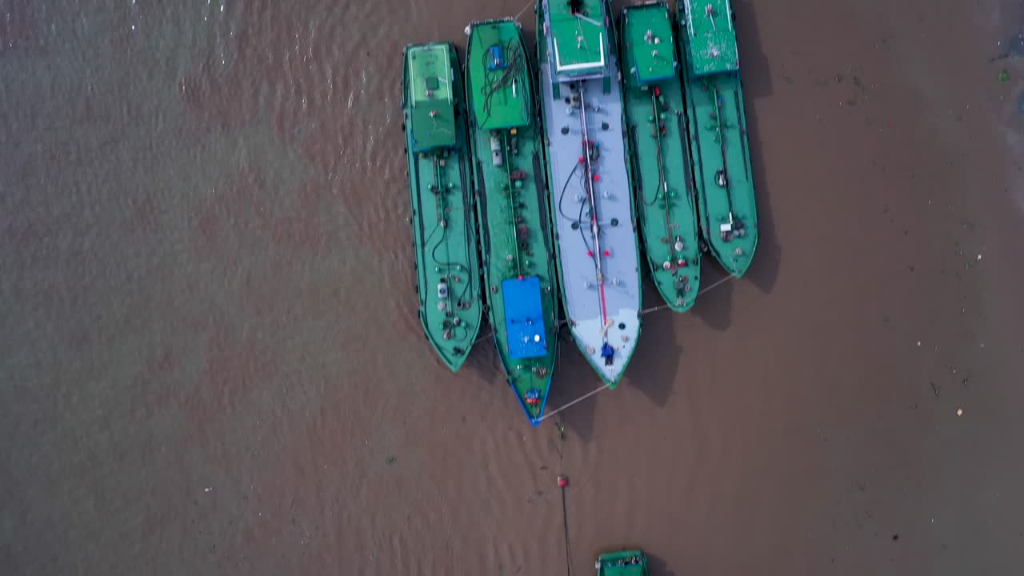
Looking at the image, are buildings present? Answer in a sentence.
No, I can't see a single building in this photo.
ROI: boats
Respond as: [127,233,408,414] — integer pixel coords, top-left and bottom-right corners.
[401,42,482,373]
[536,0,643,390]
[673,0,758,279]
[619,2,702,313]
[465,17,559,427]
[596,547,648,576]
